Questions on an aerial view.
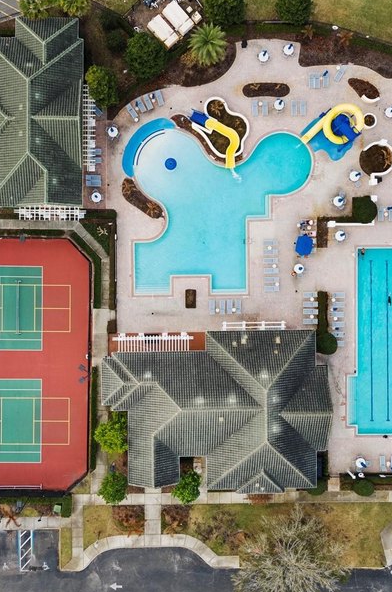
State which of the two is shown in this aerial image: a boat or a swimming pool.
swimming pool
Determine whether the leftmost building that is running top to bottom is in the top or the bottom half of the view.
top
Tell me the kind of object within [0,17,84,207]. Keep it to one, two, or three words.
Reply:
building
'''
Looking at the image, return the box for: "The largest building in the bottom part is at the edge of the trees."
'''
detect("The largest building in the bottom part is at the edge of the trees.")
[102,330,335,493]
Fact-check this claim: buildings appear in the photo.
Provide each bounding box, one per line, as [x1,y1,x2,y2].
[102,330,335,493]
[0,17,84,207]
